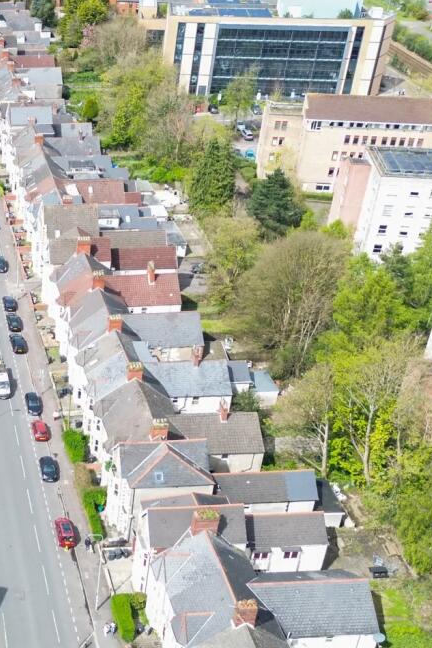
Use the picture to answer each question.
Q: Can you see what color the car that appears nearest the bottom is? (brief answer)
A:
red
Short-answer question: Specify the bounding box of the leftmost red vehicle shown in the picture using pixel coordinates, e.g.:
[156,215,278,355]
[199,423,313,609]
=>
[31,422,49,445]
